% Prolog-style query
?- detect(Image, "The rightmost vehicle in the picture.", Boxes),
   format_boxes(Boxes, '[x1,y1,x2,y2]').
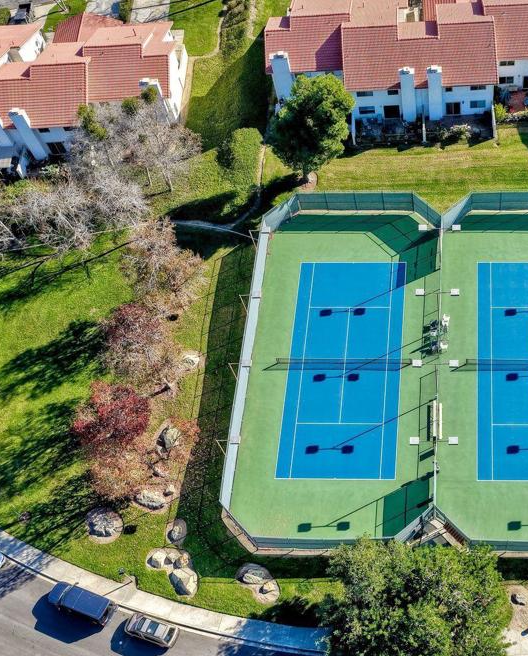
[122,613,182,649]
